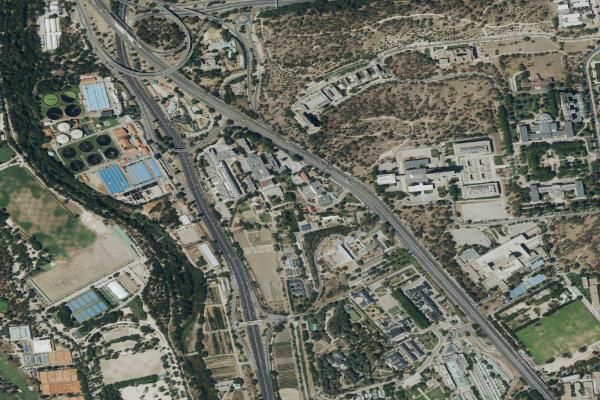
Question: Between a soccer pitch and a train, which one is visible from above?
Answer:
soccer pitch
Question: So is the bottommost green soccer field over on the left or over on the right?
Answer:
right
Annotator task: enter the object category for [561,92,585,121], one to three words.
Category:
building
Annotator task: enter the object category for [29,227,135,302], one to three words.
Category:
sports field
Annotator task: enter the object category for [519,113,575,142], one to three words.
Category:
building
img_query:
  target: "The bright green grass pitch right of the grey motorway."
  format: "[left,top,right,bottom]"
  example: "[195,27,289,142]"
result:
[515,299,600,364]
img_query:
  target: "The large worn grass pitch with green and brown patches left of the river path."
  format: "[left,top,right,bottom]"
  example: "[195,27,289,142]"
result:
[0,163,97,263]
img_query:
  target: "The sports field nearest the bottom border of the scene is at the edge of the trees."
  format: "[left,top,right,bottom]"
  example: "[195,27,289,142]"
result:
[101,349,164,384]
